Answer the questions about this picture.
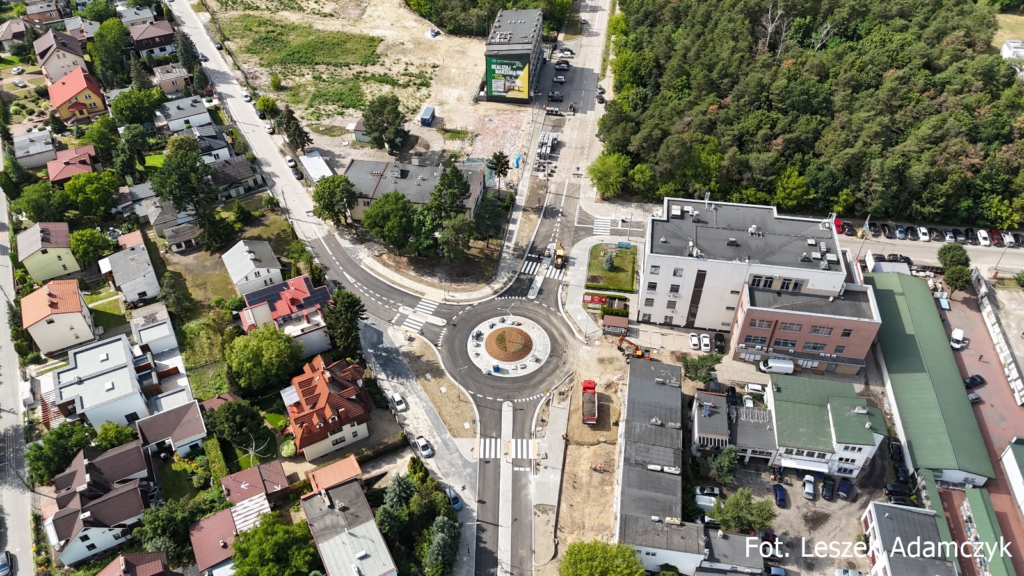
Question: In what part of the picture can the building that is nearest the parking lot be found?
top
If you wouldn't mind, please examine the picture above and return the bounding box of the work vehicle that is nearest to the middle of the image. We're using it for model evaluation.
[553,240,565,272]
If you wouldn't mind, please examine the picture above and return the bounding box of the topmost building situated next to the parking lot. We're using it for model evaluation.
[479,7,537,104]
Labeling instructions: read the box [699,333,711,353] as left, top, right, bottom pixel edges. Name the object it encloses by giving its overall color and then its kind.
white vehicle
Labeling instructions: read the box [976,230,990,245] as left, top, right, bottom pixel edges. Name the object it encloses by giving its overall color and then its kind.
white car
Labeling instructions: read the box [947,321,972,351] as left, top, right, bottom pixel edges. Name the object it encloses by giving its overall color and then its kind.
white vehicle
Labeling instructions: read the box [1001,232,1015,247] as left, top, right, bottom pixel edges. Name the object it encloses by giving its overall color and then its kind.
white car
